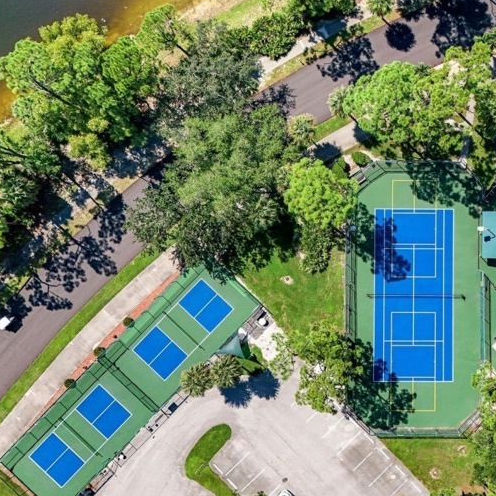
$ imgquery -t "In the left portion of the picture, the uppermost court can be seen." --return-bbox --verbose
[104,253,259,409]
